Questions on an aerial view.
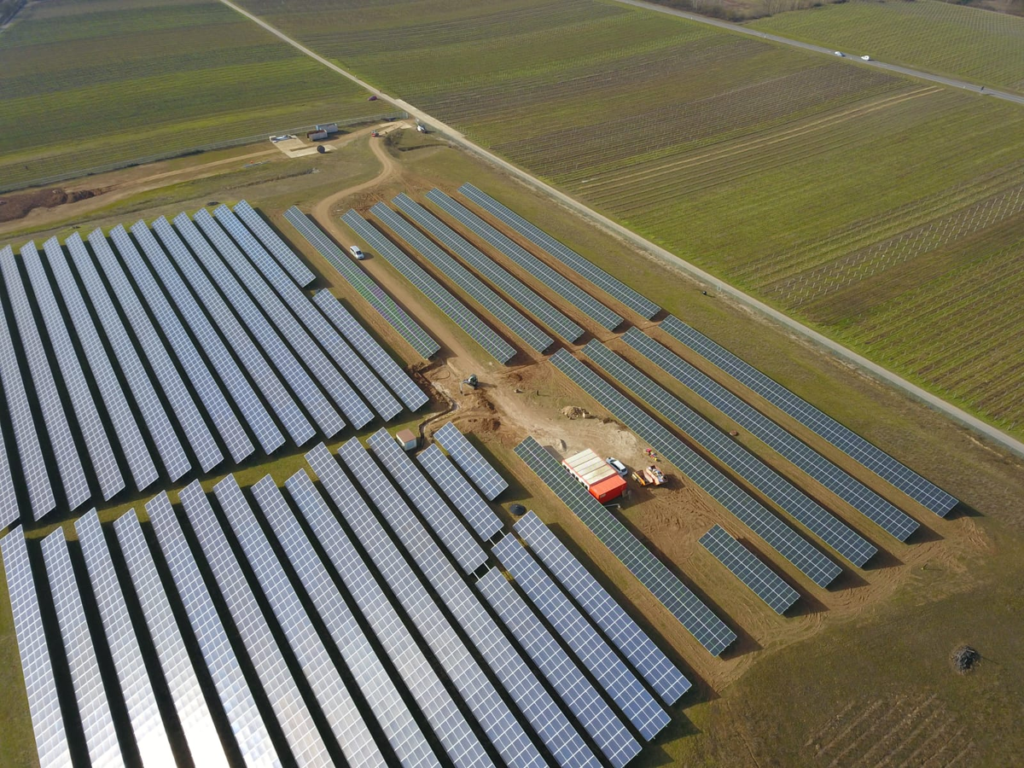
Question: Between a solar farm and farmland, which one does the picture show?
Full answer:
The area seen from above is a solar farm.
